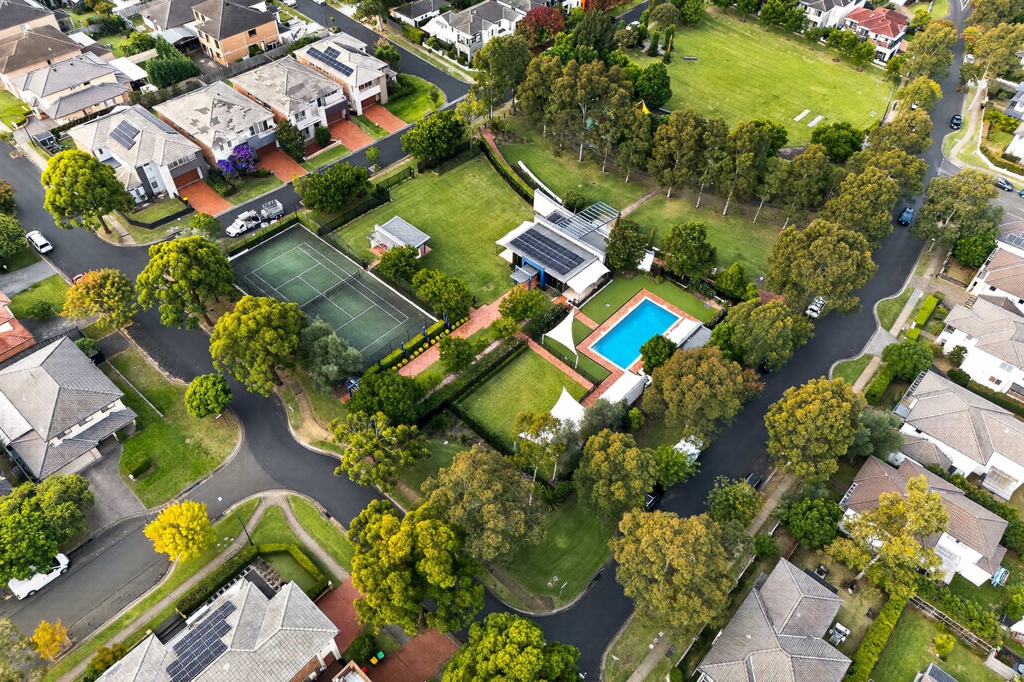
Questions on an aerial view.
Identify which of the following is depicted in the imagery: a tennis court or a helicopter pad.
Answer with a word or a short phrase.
tennis court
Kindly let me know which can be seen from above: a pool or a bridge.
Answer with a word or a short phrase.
pool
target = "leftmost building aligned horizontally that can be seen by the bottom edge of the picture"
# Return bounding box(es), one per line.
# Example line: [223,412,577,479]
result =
[92,579,343,682]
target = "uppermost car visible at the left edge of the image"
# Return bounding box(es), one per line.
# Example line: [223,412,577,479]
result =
[27,228,52,249]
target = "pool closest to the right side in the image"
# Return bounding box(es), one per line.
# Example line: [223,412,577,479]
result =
[593,299,680,371]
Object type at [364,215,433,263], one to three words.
building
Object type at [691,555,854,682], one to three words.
house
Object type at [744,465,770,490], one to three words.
car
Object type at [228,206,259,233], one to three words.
truck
